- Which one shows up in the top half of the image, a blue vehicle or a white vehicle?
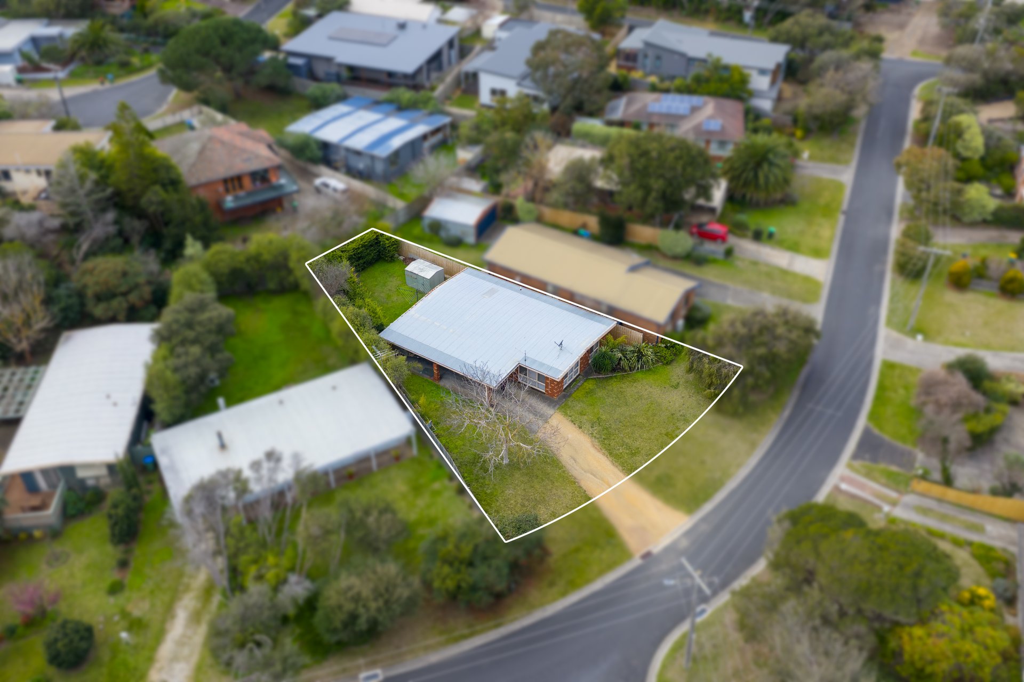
white vehicle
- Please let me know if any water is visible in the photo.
No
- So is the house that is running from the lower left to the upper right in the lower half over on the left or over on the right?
left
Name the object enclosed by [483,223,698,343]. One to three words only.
house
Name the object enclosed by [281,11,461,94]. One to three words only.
house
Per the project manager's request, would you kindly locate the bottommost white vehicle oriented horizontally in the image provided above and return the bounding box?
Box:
[314,178,349,195]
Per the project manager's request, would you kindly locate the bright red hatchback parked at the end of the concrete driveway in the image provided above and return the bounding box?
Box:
[691,224,730,244]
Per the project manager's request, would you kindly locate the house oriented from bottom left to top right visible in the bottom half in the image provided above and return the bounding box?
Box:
[0,322,165,531]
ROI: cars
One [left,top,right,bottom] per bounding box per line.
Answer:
[691,224,730,244]
[314,178,349,195]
